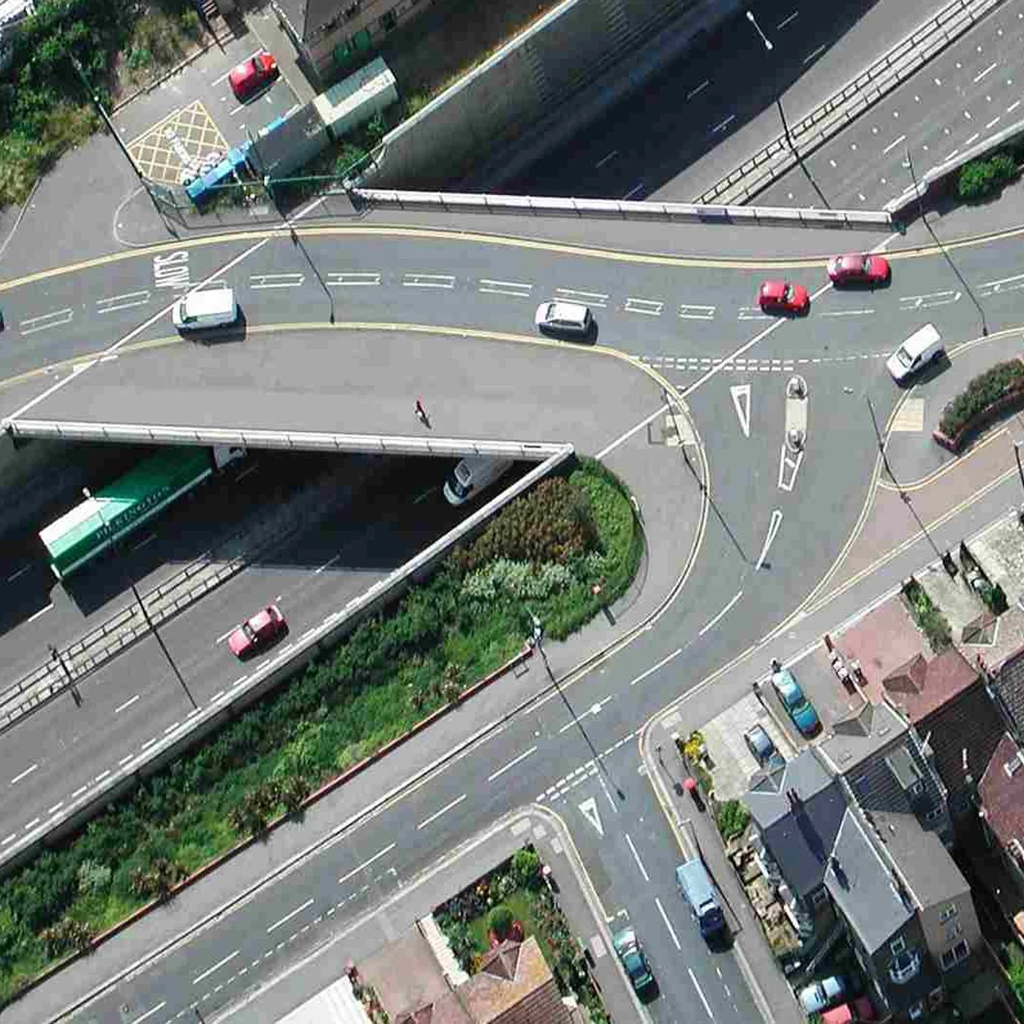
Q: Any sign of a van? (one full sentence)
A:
Yes, there's a van down there.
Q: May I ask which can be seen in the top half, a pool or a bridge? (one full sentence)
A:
Visible in the top half is a bridge.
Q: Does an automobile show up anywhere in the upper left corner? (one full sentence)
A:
Yes, the scene does show an automobile in the upper left corner.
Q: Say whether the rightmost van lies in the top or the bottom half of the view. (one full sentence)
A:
The rightmost van sits in the top half of the picture.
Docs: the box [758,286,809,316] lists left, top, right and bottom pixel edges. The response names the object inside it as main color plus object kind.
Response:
red car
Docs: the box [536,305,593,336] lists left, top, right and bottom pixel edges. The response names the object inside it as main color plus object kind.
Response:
white car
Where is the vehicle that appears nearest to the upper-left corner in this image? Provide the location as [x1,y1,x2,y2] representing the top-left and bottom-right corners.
[229,54,279,91]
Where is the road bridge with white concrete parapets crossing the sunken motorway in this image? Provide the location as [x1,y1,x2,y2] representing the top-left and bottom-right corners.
[5,184,901,473]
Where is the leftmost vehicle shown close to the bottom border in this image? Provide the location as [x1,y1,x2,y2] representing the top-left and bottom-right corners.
[611,933,655,995]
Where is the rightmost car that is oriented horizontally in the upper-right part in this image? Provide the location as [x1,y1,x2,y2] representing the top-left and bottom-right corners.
[828,258,889,287]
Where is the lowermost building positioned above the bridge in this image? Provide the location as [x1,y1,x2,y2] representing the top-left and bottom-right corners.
[314,62,403,161]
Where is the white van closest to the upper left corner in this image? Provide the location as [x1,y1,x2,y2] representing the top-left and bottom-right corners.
[176,296,238,331]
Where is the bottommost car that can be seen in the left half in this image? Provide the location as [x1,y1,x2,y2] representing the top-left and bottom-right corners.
[227,612,286,659]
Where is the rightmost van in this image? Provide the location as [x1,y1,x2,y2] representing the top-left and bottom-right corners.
[887,327,946,381]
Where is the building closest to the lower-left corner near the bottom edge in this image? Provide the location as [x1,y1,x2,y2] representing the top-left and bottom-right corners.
[276,975,375,1024]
